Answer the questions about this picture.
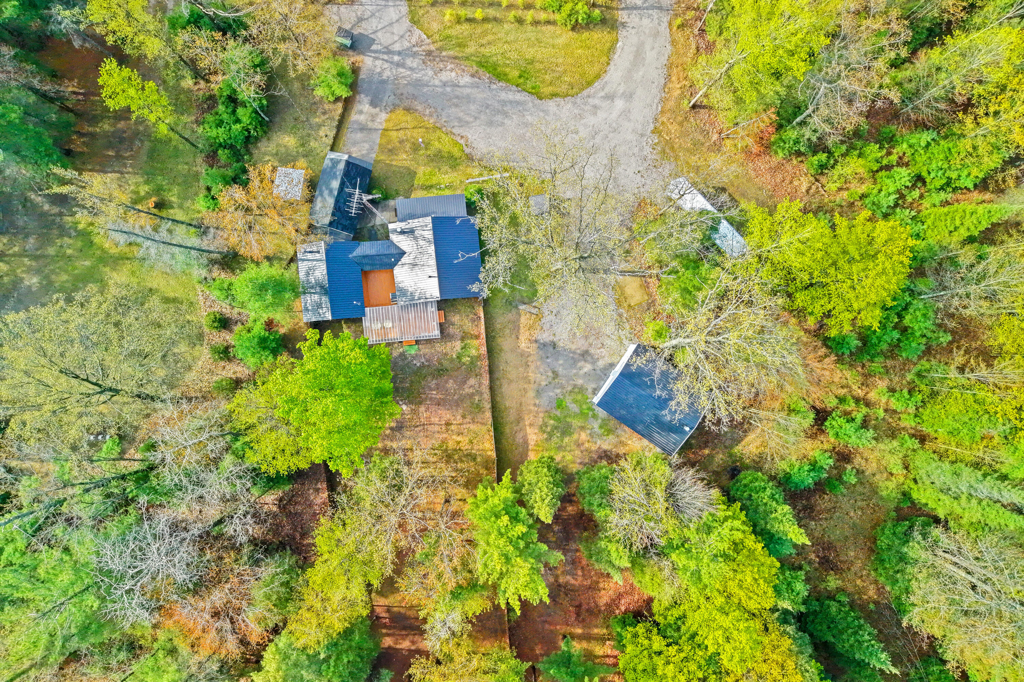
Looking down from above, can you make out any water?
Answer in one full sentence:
No, no water is visible.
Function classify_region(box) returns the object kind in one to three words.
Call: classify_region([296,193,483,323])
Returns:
house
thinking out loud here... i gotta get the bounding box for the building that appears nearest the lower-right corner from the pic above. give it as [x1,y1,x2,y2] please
[593,342,714,457]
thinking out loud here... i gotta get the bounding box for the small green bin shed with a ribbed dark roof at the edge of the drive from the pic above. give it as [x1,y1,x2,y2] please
[333,20,357,49]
